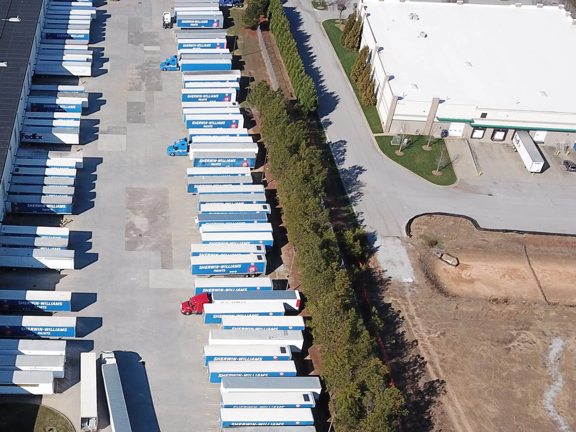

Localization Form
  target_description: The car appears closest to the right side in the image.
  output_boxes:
[561,157,576,171]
